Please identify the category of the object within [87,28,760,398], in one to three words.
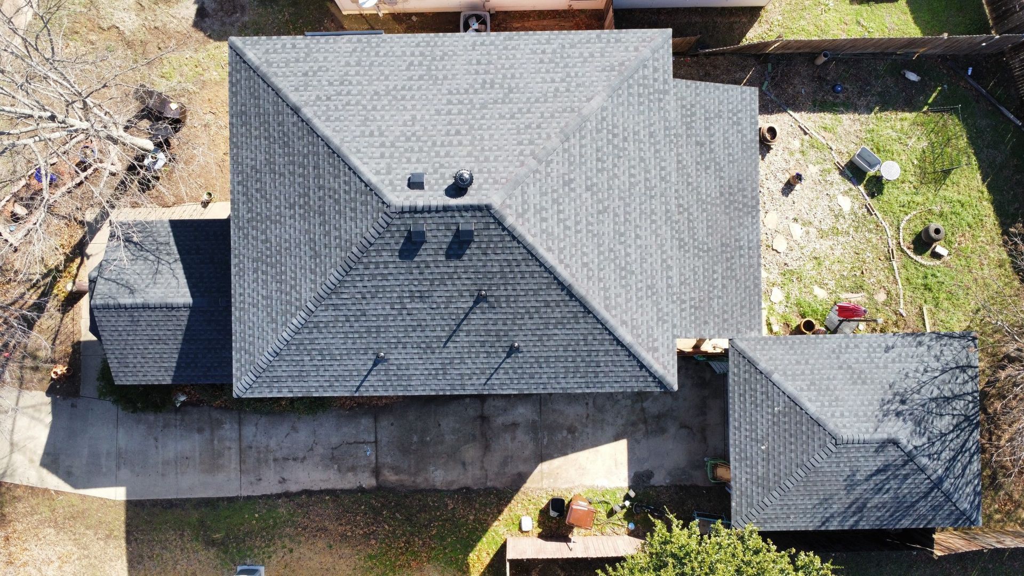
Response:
house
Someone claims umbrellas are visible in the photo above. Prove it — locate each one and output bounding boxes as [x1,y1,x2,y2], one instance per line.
[825,301,884,337]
